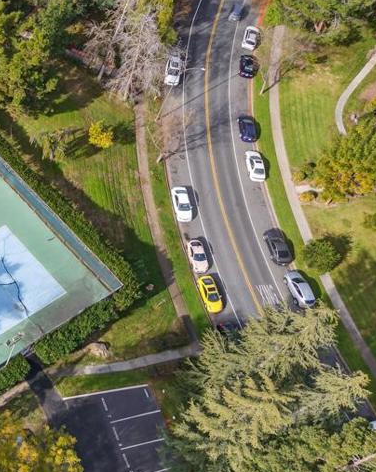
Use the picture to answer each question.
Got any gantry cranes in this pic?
No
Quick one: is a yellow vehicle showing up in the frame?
Yes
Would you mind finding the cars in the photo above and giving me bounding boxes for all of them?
[184,237,211,275]
[243,150,267,182]
[194,274,223,315]
[239,52,258,81]
[212,313,247,356]
[226,1,248,24]
[263,229,294,266]
[282,270,318,309]
[237,113,259,145]
[169,186,193,221]
[240,25,260,51]
[164,54,182,85]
